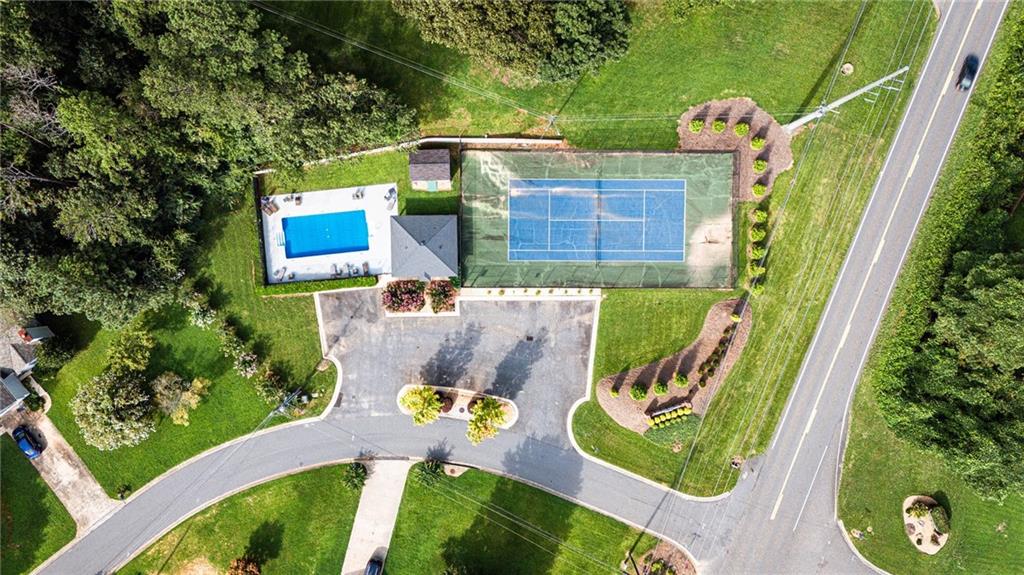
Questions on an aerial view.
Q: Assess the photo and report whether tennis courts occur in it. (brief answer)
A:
Yes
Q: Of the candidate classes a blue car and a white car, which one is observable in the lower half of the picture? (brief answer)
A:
blue car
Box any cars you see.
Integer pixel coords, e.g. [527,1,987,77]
[13,425,41,460]
[365,559,382,575]
[952,53,979,92]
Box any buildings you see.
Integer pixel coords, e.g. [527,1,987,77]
[0,312,67,414]
[391,215,458,281]
[408,149,451,191]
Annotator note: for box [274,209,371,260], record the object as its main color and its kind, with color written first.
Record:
blue swimming pool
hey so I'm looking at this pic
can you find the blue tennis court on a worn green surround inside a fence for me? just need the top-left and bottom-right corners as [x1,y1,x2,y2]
[461,152,732,288]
